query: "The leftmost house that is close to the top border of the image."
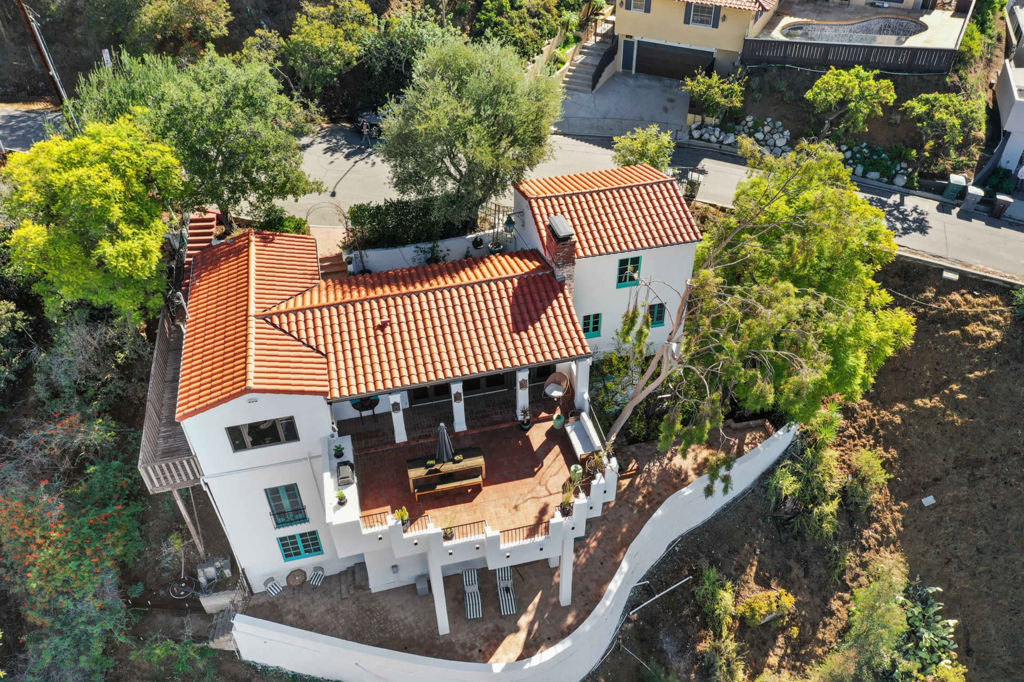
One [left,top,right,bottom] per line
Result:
[614,0,769,83]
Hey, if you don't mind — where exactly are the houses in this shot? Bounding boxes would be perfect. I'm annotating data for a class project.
[614,0,769,83]
[990,7,1024,189]
[133,162,706,636]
